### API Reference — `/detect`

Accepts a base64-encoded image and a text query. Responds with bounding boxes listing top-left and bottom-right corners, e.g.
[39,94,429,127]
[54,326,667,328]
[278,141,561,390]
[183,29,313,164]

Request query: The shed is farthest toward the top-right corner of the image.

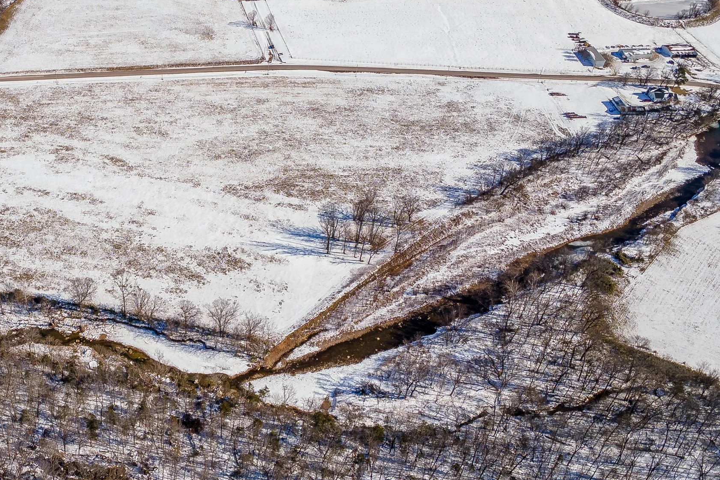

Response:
[654,44,696,57]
